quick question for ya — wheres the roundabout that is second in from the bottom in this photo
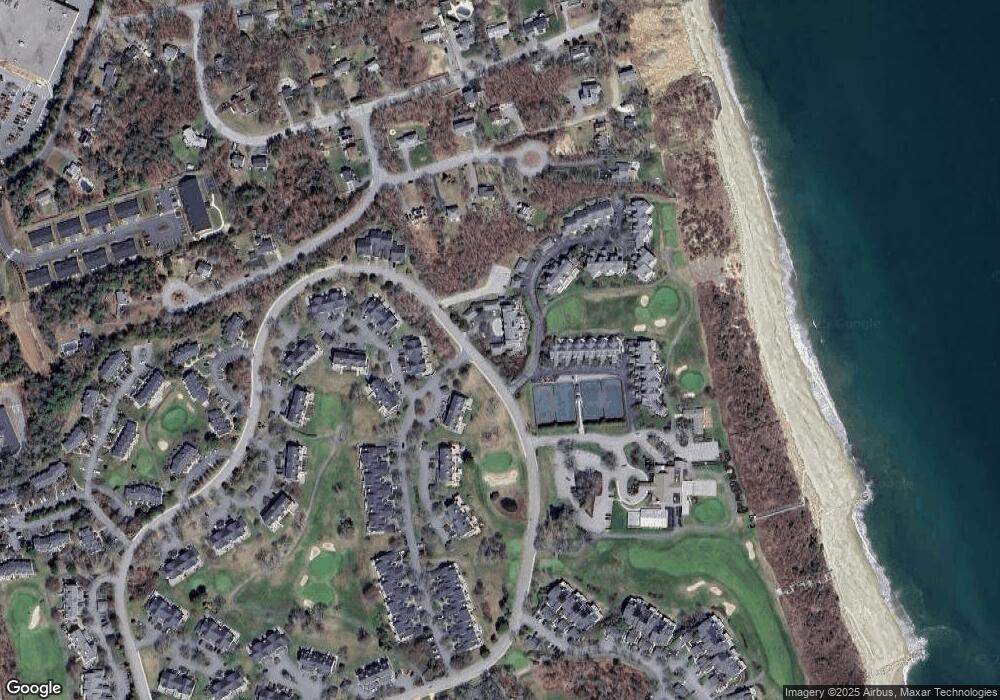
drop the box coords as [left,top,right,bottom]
[162,279,196,314]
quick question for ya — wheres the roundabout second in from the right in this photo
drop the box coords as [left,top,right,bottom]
[514,140,549,175]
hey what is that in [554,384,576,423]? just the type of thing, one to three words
tennis court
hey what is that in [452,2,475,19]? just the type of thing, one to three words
swimming pool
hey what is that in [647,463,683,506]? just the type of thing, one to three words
building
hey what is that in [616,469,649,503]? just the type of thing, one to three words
roundabout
